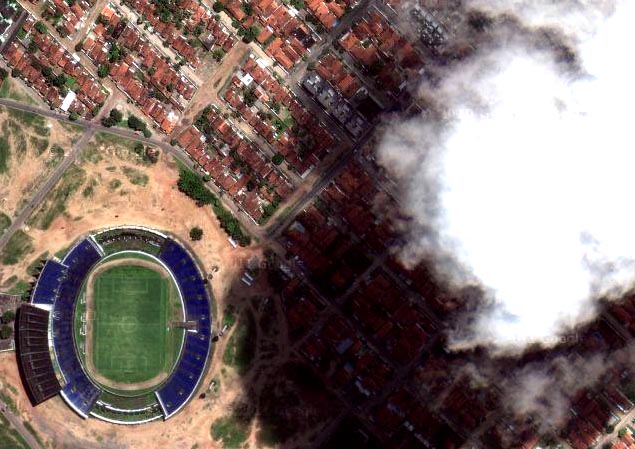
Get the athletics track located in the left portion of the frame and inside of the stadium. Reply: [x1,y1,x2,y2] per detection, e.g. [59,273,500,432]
[87,259,172,389]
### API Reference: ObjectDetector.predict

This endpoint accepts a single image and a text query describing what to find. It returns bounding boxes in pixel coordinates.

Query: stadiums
[18,226,212,424]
